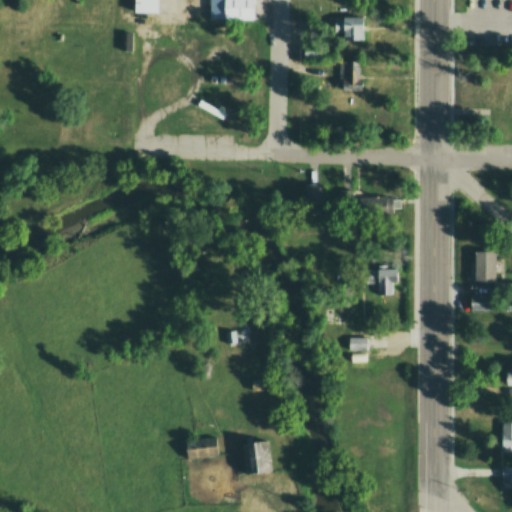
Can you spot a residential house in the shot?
Yes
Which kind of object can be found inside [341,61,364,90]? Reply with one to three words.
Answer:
house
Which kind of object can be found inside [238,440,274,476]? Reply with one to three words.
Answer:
barn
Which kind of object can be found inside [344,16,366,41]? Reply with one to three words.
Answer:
house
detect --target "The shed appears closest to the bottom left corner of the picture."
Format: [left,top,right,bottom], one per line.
[187,437,220,460]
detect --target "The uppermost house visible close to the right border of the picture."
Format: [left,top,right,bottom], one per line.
[476,252,505,282]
